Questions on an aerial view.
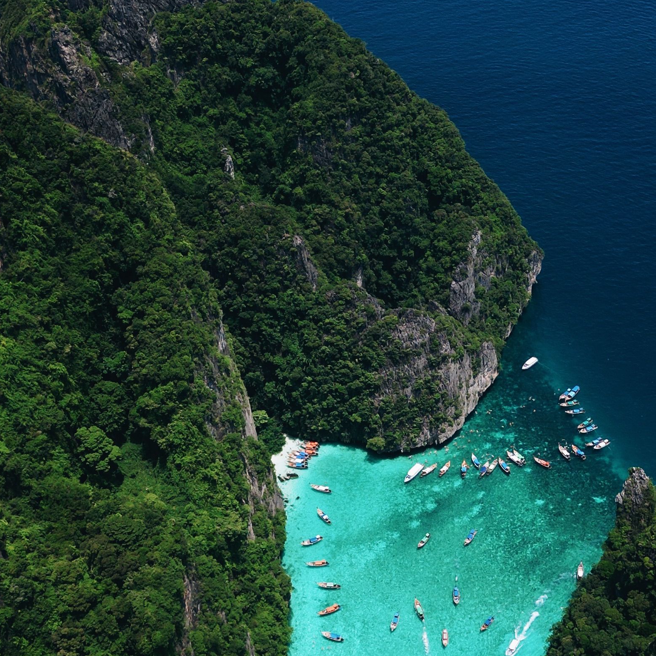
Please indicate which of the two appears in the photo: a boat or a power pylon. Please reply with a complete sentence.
Of the two, only a boat appears.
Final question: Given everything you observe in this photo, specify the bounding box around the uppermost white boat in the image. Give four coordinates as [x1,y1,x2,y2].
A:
[522,354,541,368]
